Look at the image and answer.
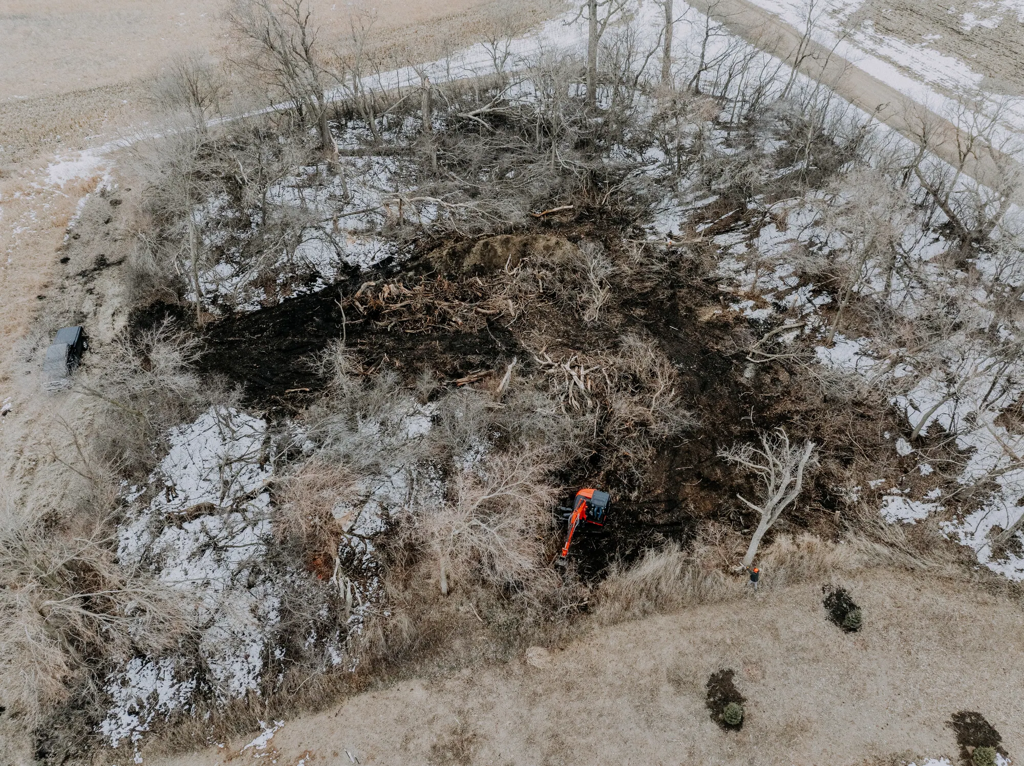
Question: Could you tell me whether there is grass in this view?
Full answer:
Yes, there's grass in this view.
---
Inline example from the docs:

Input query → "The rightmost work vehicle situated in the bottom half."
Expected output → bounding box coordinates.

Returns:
[552,485,616,572]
